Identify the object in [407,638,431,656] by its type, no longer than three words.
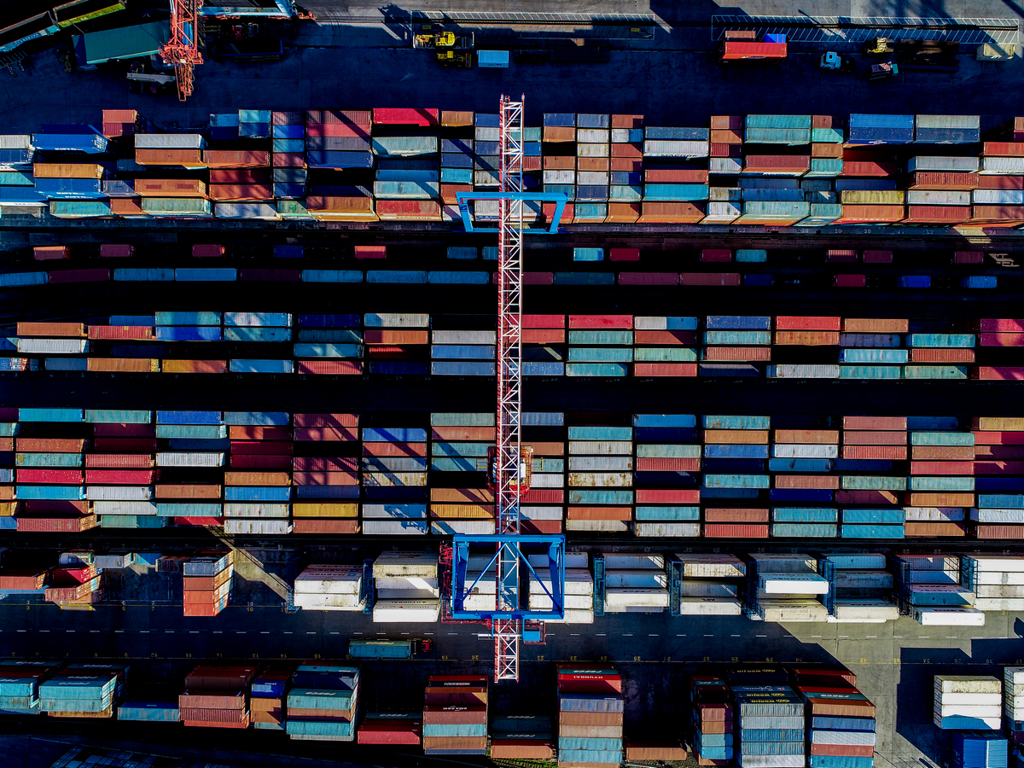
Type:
vehicle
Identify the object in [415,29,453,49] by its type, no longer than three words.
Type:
work vehicle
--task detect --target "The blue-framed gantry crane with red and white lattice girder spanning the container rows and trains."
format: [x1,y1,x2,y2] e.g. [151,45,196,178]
[440,94,573,688]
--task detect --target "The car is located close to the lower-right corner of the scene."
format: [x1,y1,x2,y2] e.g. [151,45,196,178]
[1007,737,1021,758]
